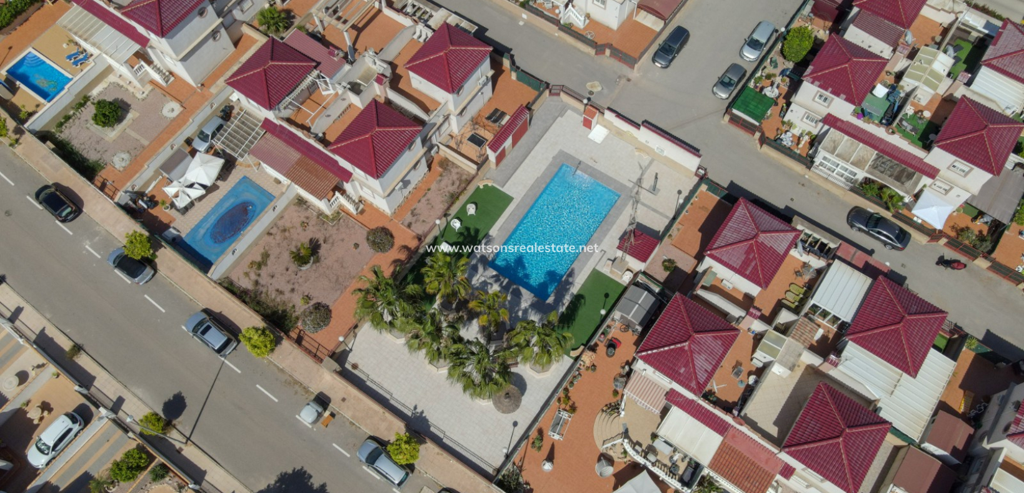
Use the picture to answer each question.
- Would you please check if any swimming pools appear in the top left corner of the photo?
Yes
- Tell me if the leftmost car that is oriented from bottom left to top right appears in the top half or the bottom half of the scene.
bottom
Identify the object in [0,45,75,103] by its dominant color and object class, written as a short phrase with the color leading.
blue swimming pool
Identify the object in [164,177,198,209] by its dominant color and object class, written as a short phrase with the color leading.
white umbrella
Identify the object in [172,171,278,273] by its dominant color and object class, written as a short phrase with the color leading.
blue swimming pool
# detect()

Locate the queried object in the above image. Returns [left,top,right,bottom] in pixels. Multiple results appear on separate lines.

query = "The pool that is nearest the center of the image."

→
[482,158,626,306]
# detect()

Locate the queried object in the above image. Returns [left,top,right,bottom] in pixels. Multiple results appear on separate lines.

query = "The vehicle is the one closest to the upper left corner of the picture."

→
[35,191,82,230]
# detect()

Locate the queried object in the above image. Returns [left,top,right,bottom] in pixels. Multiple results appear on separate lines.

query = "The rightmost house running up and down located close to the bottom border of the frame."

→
[968,365,1024,481]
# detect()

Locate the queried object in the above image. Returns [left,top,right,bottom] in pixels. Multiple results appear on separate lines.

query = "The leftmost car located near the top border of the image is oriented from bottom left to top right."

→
[647,21,691,69]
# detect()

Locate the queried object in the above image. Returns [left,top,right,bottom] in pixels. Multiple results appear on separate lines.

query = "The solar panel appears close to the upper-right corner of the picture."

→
[960,15,994,40]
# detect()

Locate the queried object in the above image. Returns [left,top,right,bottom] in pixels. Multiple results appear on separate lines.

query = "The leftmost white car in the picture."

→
[24,403,92,465]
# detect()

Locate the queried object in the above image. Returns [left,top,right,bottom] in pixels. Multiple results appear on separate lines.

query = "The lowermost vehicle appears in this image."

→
[351,437,419,493]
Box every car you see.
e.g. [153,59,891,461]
[24,403,92,465]
[737,17,783,65]
[351,437,419,493]
[839,210,913,257]
[35,191,82,230]
[706,59,751,103]
[185,114,230,155]
[105,250,158,294]
[647,21,691,69]
[182,313,242,366]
